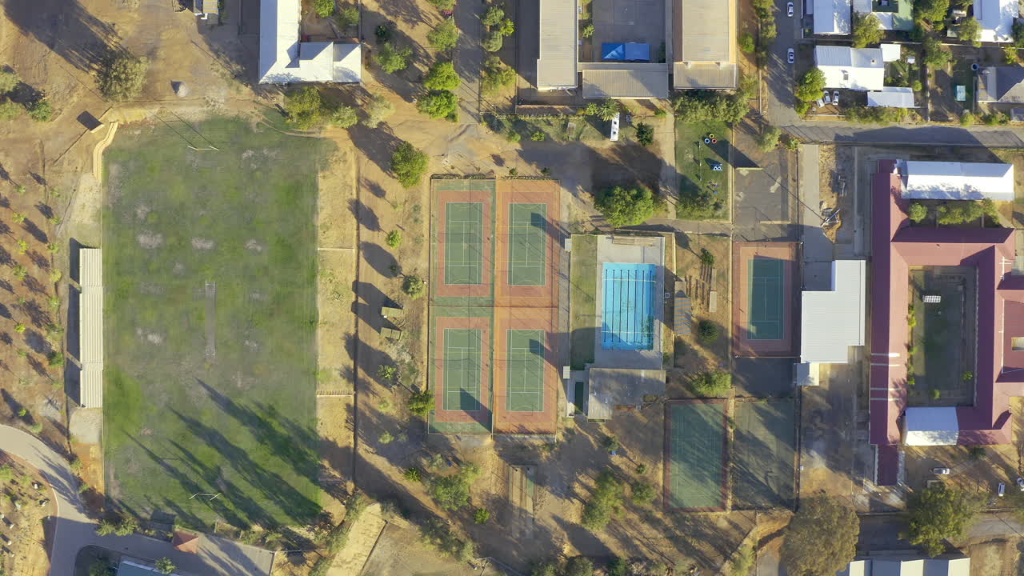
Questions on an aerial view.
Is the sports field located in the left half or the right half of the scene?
left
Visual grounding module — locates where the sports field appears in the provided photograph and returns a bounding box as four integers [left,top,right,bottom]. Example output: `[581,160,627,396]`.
[98,114,326,535]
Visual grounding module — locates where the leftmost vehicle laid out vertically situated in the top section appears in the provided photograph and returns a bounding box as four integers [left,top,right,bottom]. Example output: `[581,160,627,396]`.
[609,113,621,142]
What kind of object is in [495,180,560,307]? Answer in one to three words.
tennis court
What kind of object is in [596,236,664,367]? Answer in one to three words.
swimming pool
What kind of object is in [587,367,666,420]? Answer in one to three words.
building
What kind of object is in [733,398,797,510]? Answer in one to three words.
sports court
